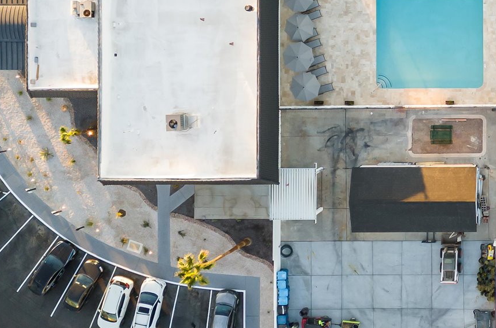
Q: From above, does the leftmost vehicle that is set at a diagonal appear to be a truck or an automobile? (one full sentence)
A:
Specifically, the leftmost vehicle that is set at a diagonal is an automobile.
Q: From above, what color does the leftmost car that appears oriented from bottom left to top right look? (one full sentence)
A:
The color of the leftmost car that appears oriented from bottom left to top right is black.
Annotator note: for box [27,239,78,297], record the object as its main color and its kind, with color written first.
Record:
black car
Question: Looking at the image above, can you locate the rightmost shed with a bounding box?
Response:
[346,166,478,232]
